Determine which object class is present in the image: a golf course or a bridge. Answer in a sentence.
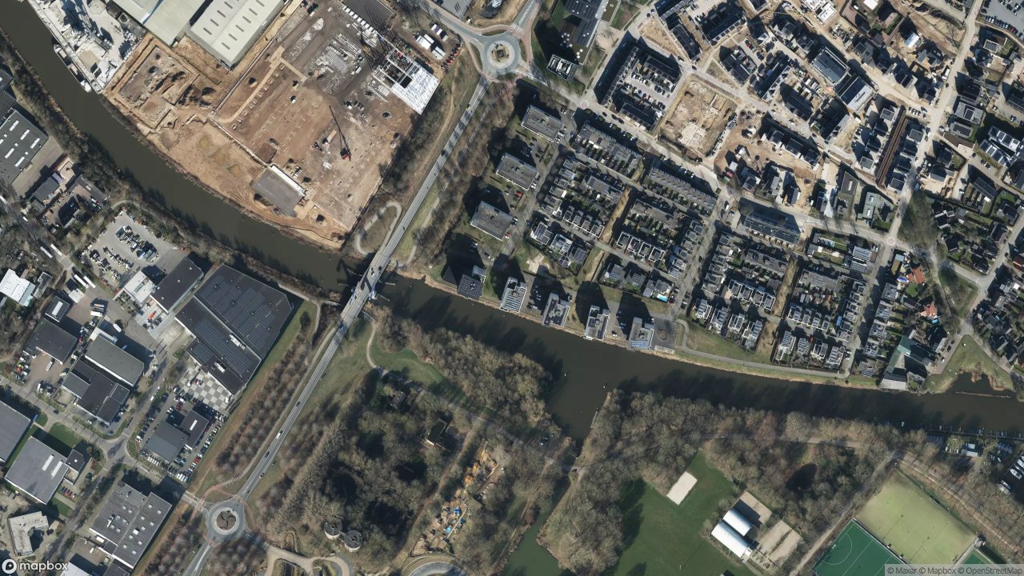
It is a bridge that can be seen here.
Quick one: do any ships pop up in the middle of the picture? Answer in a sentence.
No, I can find no ship in the middle of the picture.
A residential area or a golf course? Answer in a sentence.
The area seen from above is a residential area.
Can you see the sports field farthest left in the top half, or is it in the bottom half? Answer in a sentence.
The sports field farthest left sits in the bottom half of the picture.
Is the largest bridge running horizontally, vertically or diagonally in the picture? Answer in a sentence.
The largest bridge is laid out diagonally.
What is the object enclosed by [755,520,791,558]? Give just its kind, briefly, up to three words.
sports court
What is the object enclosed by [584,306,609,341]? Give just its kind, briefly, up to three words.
building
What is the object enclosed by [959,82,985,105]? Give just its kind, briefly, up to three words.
house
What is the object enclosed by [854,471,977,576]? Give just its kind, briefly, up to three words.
sports field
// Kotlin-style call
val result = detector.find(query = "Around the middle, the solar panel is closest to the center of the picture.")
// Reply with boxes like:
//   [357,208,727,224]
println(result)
[505,293,523,310]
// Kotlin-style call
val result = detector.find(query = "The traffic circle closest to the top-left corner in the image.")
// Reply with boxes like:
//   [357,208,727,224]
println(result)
[479,32,523,75]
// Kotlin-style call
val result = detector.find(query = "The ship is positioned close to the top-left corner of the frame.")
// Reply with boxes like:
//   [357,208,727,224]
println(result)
[54,47,92,94]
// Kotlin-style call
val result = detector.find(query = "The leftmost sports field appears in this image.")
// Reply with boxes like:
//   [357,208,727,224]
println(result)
[611,453,760,576]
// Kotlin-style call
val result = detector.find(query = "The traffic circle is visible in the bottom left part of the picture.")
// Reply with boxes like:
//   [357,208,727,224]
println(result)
[206,500,247,541]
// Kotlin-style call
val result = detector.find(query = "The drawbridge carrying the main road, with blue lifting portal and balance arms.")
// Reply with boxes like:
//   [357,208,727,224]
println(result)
[331,256,390,332]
